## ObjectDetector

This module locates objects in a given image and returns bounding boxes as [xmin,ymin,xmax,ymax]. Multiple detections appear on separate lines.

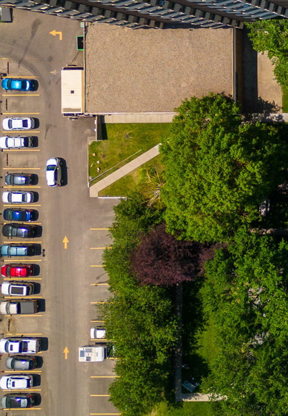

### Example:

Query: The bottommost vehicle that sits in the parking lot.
[1,393,35,409]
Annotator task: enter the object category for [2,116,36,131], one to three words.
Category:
car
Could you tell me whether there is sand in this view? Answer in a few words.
No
